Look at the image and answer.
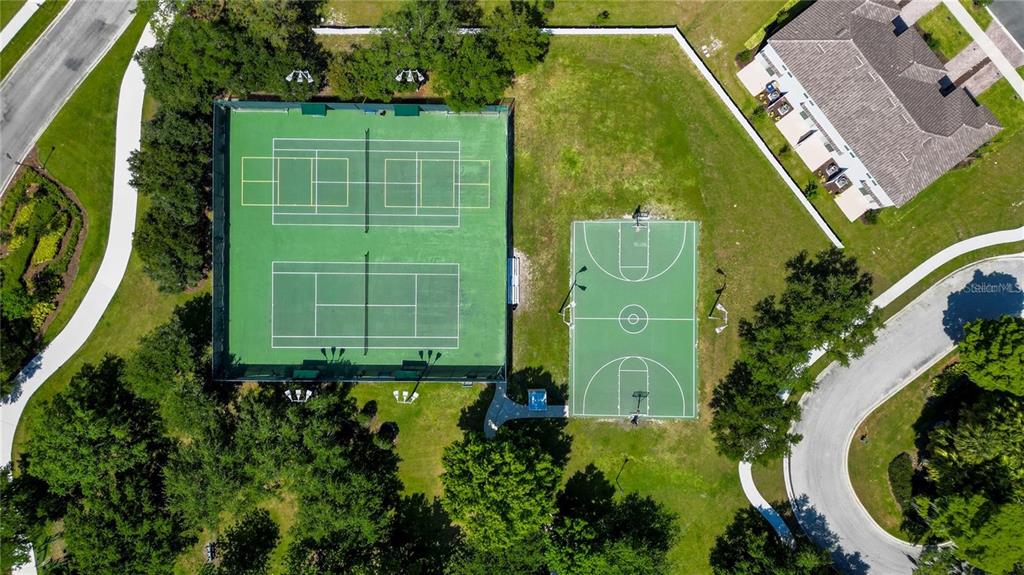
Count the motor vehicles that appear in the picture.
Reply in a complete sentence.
There are no motor vehicles in this view.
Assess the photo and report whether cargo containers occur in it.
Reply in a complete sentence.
No, no cargo container is visible in the scene.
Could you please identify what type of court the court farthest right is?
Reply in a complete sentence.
What you see as the court farthest right is a basketball court.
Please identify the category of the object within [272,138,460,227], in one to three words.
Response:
tennis court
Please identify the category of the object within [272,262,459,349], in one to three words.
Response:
tennis court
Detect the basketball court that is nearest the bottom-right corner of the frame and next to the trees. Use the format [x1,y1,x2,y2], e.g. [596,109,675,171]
[569,220,699,418]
